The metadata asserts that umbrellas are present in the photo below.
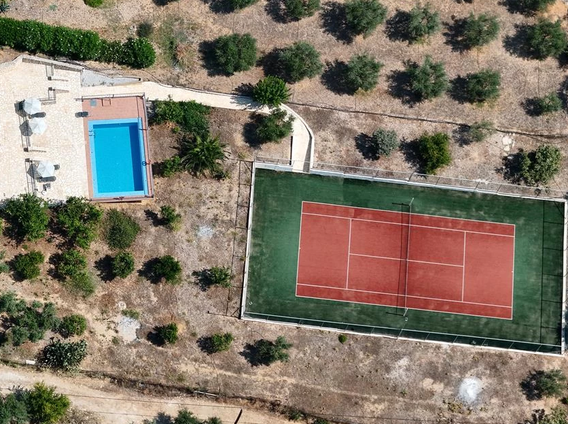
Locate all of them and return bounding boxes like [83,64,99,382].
[35,159,54,179]
[28,118,46,136]
[22,98,41,116]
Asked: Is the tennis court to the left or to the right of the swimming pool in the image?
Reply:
to its right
